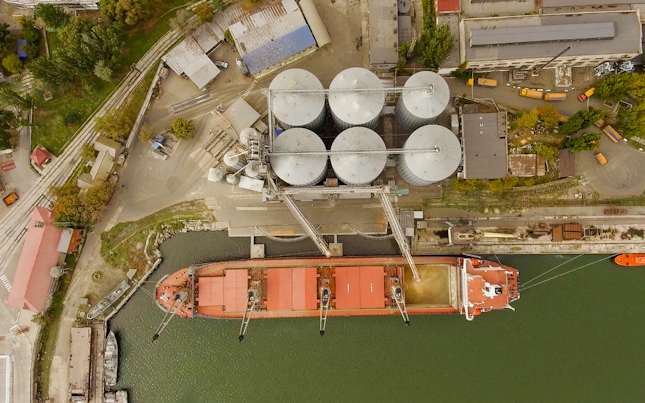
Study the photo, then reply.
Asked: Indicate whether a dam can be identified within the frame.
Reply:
No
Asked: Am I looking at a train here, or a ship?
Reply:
ship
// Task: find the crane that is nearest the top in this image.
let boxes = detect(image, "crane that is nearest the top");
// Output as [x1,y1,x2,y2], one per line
[445,220,522,247]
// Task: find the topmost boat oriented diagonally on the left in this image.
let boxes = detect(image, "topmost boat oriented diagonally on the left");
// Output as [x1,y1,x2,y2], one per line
[87,281,130,319]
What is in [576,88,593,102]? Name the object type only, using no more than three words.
vehicle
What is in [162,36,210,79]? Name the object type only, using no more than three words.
shed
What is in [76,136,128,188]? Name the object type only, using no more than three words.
house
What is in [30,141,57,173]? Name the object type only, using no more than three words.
building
